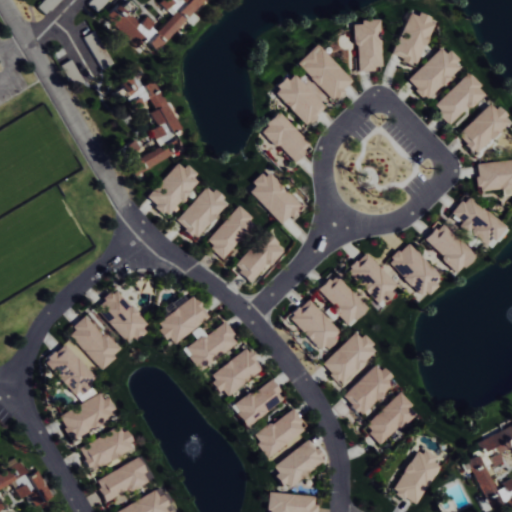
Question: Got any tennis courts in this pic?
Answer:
No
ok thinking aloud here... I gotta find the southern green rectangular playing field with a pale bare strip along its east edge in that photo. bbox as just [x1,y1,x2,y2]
[0,186,94,303]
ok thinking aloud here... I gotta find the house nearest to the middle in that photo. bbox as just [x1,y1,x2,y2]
[235,235,288,287]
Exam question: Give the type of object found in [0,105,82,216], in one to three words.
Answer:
sports field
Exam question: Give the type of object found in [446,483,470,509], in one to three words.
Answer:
swimming pool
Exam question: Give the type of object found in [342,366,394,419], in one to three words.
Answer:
house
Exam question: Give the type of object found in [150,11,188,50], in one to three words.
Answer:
house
